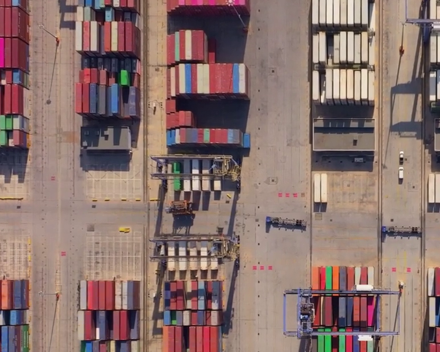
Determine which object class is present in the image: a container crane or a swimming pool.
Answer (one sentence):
Looking from above, you can make out a container crane.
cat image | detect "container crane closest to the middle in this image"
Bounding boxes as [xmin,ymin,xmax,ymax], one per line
[149,153,241,192]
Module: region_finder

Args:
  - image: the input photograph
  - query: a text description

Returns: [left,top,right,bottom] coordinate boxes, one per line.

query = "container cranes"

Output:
[148,231,241,268]
[283,285,400,341]
[149,153,241,192]
[406,0,440,47]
